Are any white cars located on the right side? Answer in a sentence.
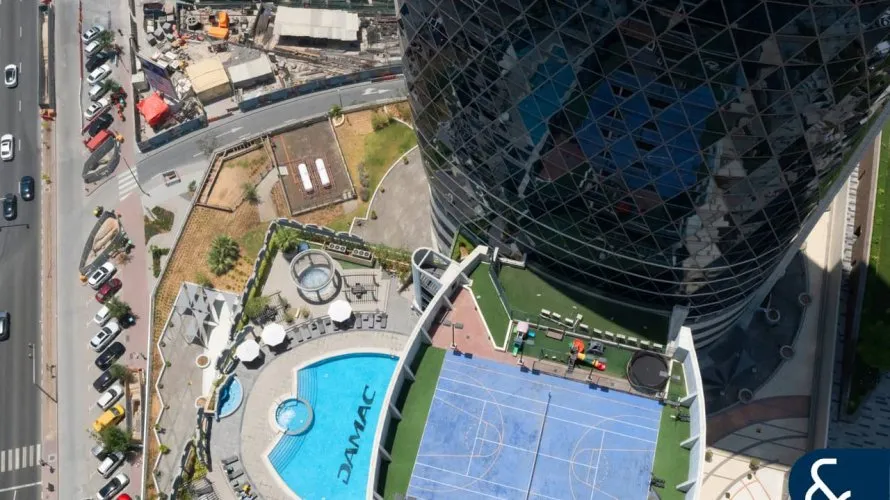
No, there is no white car on the right side.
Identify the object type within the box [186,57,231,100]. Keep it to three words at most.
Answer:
building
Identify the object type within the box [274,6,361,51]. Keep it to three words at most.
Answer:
shed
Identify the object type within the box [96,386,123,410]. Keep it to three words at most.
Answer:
car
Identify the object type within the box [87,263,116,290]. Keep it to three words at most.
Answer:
car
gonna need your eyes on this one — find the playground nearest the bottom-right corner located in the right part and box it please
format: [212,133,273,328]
[564,338,610,373]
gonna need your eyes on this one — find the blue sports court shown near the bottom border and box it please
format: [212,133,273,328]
[406,355,663,500]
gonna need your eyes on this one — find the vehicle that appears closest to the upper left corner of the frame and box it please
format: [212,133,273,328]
[4,64,18,87]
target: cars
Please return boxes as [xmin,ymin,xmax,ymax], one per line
[3,195,17,221]
[96,407,123,433]
[82,35,106,58]
[87,263,116,290]
[86,97,111,119]
[20,176,35,203]
[0,136,15,161]
[85,436,111,463]
[95,343,124,370]
[91,303,115,328]
[91,369,114,395]
[121,489,141,500]
[4,64,18,87]
[81,23,103,44]
[97,473,128,500]
[89,113,114,135]
[89,324,119,349]
[84,128,112,151]
[84,50,108,72]
[96,386,123,410]
[88,63,113,85]
[85,83,109,103]
[95,278,123,303]
[95,454,125,480]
